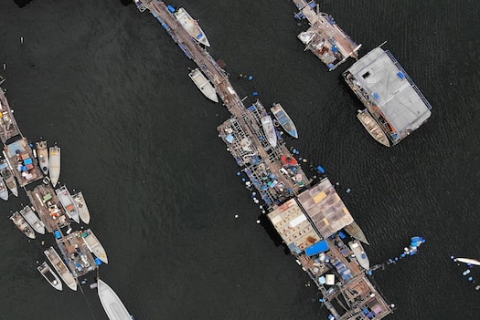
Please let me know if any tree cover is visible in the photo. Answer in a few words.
No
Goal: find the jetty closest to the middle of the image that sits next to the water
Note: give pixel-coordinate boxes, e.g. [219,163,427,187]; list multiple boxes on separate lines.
[235,108,301,198]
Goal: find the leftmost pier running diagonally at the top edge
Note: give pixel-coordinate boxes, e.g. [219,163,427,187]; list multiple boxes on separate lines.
[141,0,250,122]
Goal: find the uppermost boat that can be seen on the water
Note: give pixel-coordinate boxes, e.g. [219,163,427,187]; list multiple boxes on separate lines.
[176,7,212,46]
